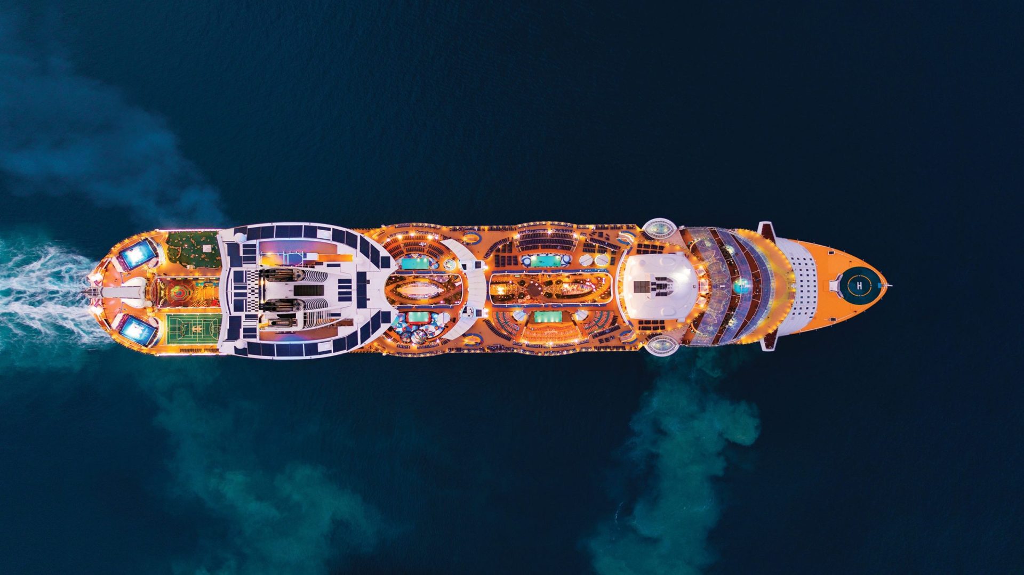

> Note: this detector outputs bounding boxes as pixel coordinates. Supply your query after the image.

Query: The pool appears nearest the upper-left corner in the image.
[397,253,440,269]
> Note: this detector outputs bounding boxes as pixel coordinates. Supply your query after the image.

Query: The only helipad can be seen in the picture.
[827,266,881,305]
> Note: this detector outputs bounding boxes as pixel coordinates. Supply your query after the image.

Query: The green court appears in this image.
[164,313,224,345]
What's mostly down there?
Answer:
water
